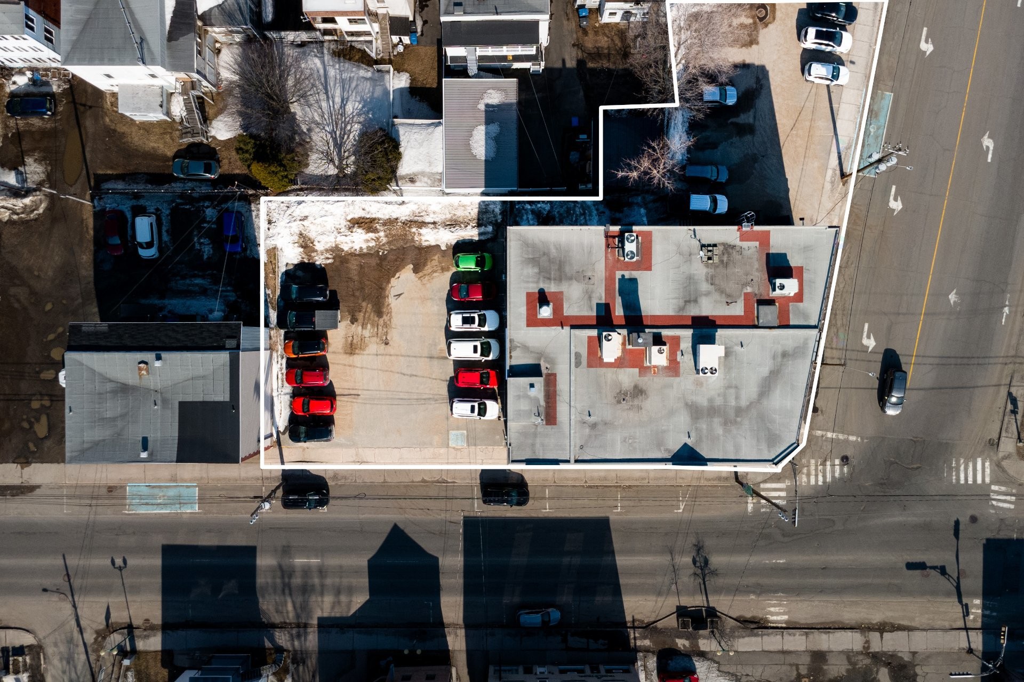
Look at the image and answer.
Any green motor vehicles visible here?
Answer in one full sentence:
Yes, there's a green motor vehicle down there.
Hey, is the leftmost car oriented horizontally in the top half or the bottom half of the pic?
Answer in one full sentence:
Seen from above, the leftmost car oriented horizontally lies in the top half of the view.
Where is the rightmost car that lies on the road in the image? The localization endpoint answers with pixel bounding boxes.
[878,368,905,416]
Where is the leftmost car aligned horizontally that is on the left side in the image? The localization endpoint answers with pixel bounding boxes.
[7,95,56,119]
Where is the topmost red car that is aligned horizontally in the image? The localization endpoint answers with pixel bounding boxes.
[451,280,497,303]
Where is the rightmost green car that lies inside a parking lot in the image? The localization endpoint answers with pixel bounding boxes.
[453,251,493,273]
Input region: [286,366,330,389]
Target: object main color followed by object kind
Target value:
red car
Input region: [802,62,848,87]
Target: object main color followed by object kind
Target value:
white car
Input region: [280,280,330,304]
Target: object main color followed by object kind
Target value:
black car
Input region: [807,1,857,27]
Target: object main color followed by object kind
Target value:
black car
